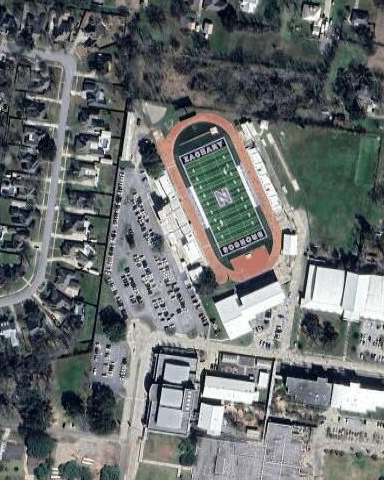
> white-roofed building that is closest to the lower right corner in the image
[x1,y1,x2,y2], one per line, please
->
[331,383,384,414]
